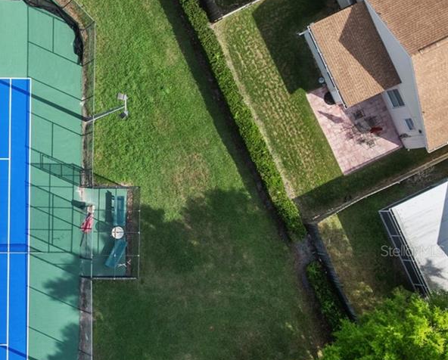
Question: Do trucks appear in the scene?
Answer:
No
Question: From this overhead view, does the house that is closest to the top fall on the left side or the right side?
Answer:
right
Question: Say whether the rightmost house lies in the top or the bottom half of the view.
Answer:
bottom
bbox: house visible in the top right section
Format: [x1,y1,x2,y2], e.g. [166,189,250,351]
[285,0,448,153]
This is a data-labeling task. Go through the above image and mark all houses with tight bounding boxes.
[379,178,448,322]
[285,0,448,153]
